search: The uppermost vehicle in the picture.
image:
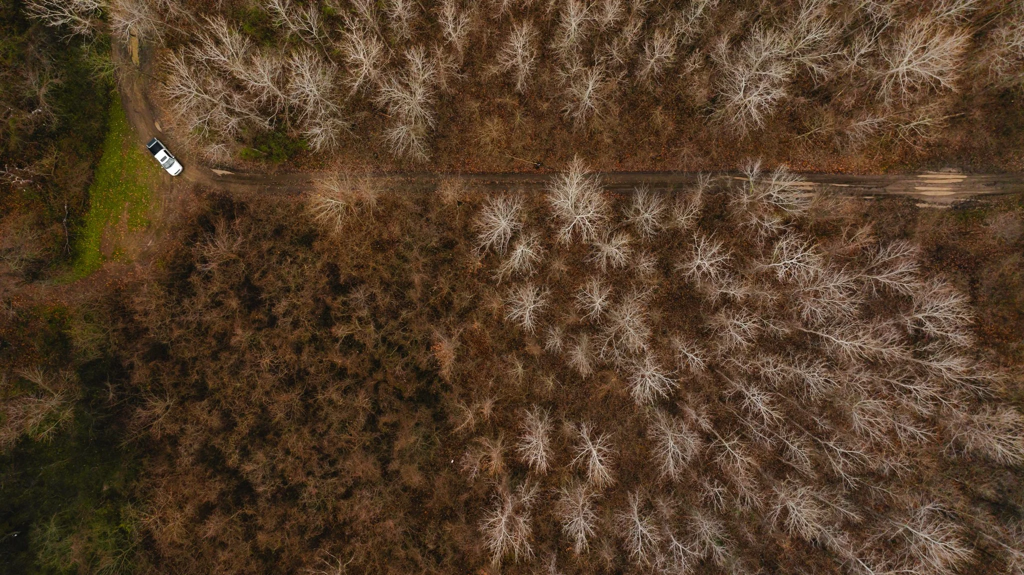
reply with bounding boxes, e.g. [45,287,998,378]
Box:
[148,138,186,178]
